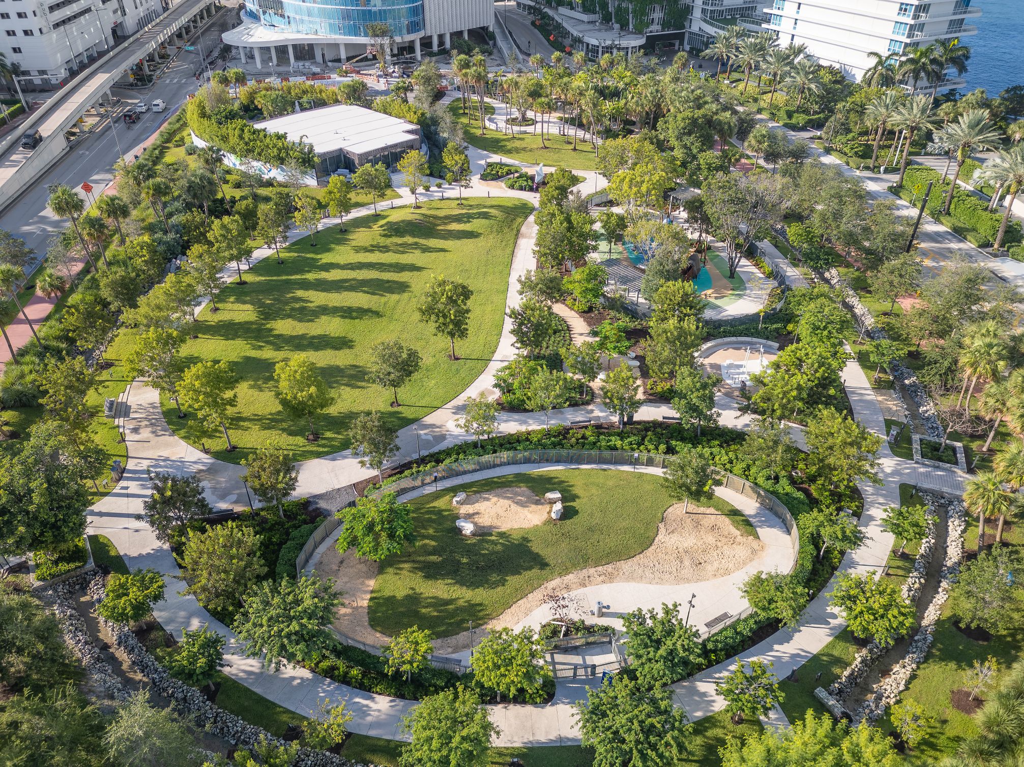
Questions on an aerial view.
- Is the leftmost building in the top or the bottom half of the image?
top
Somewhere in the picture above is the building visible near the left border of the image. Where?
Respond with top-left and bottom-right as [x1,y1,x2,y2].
[0,0,160,86]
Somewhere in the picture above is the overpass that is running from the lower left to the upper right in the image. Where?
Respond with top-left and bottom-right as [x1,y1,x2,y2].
[0,0,232,217]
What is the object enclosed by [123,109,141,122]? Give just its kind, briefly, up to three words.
vehicle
